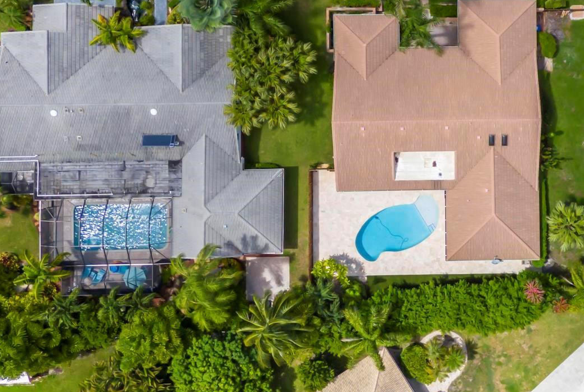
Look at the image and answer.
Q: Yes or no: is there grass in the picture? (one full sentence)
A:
Yes, the picture does contain grass.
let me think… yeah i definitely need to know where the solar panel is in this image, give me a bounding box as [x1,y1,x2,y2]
[140,135,176,147]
